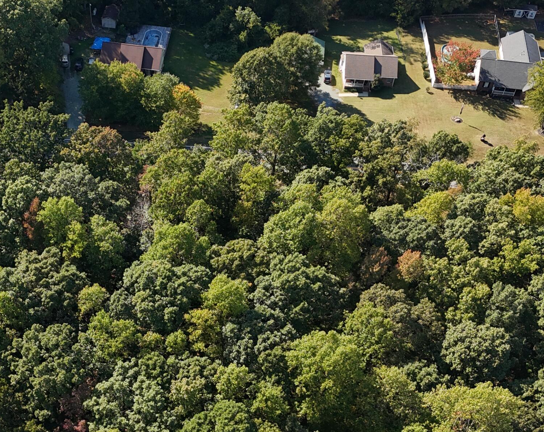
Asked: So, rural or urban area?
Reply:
rural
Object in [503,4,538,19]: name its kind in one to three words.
shed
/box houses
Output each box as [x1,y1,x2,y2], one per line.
[337,43,398,93]
[97,40,169,79]
[473,30,544,104]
